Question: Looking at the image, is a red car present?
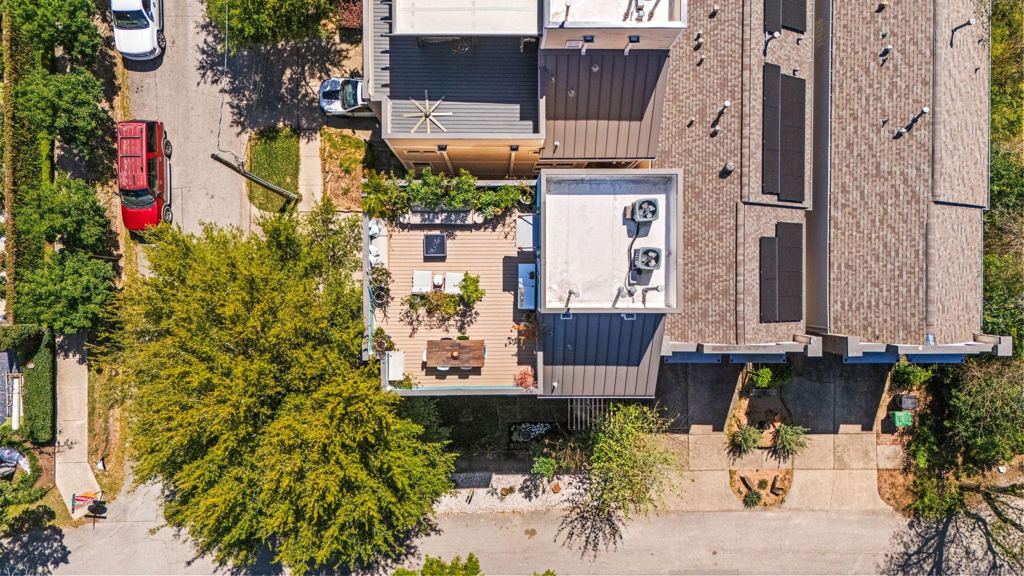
Yes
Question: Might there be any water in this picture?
No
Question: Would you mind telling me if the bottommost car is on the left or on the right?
left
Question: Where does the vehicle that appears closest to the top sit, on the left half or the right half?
left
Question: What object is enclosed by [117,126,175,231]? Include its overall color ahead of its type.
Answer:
red car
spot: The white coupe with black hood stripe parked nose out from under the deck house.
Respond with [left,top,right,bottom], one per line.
[319,70,379,119]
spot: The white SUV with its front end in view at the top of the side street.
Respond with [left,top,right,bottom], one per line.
[111,0,170,59]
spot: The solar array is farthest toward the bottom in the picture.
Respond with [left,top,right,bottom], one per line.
[760,222,802,322]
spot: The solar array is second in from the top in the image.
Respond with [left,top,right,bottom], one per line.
[764,61,805,203]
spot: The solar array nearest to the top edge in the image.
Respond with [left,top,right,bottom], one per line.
[765,0,806,37]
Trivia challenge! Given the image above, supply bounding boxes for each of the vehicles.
[111,0,170,59]
[319,70,379,119]
[117,126,175,231]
